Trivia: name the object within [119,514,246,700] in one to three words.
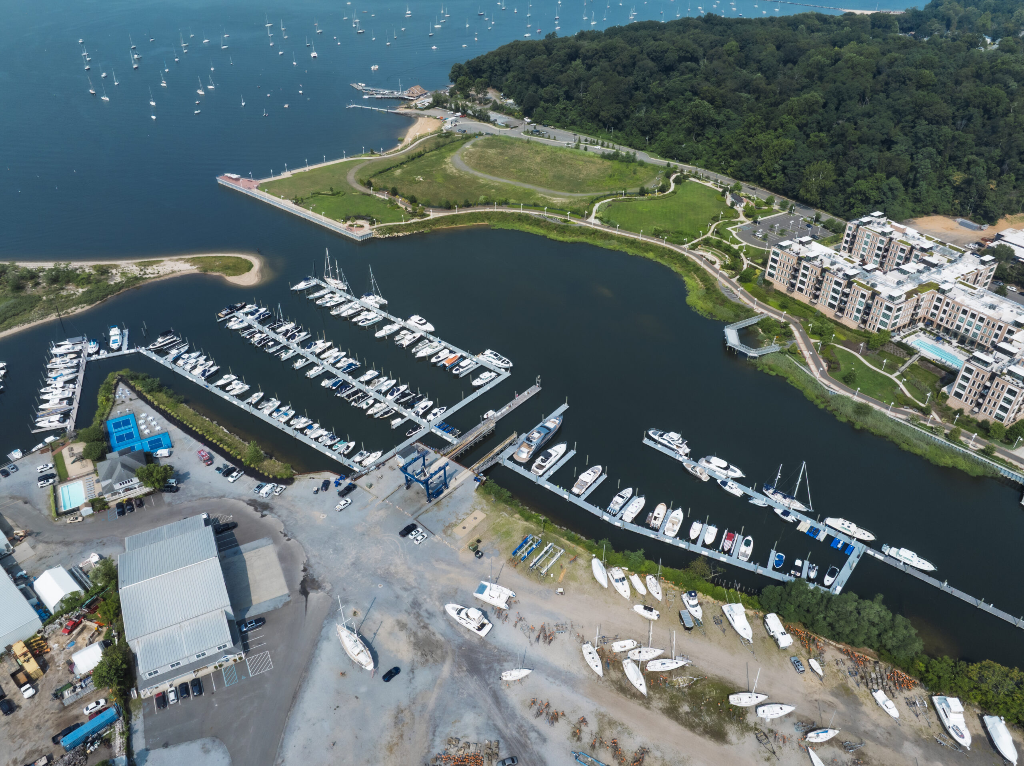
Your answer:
warehouse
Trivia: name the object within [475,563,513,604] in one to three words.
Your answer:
boat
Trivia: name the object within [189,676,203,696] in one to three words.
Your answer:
car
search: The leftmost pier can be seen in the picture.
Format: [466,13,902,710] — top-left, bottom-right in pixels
[31,342,89,434]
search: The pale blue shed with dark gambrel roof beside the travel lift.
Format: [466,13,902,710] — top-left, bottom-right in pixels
[395,445,420,466]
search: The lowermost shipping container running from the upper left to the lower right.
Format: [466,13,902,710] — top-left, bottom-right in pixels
[16,647,48,686]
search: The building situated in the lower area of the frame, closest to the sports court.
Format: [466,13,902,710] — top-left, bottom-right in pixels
[104,450,154,509]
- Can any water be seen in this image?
Yes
